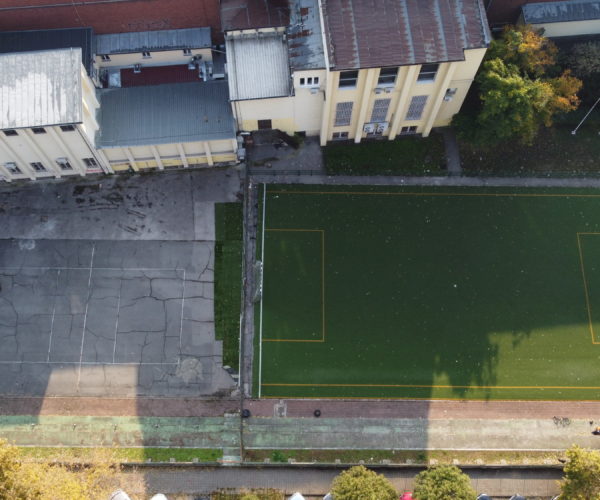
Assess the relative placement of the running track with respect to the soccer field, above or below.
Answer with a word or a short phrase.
below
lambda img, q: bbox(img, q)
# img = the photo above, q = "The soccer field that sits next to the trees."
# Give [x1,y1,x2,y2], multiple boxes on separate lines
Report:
[255,184,600,402]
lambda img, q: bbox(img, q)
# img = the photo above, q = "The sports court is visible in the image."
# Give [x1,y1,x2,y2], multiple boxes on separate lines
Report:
[0,237,239,398]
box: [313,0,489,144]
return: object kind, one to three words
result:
building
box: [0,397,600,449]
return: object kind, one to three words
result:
running track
